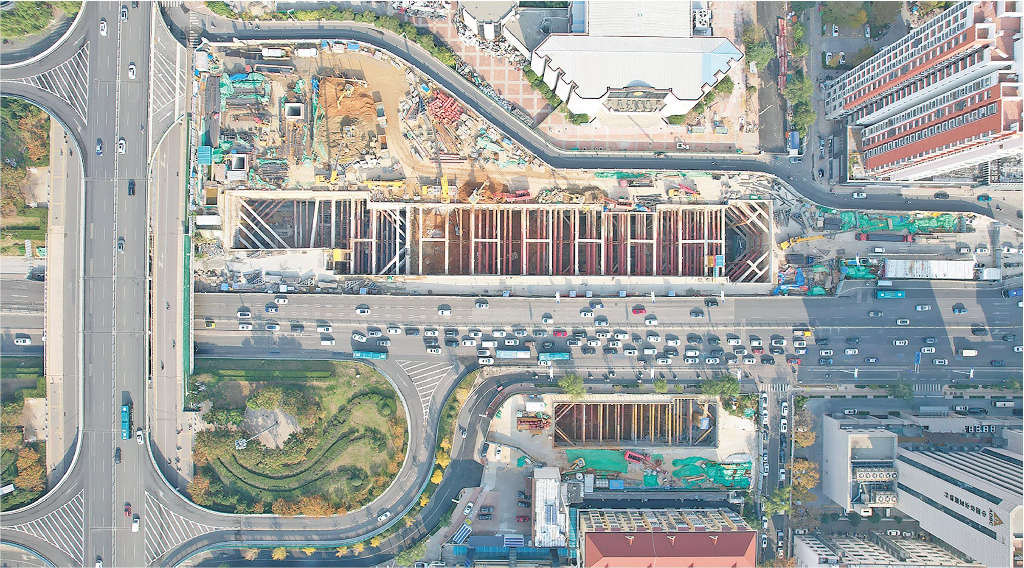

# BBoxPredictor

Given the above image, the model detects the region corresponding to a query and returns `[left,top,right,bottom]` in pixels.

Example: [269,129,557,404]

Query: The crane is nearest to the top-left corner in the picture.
[314,131,348,188]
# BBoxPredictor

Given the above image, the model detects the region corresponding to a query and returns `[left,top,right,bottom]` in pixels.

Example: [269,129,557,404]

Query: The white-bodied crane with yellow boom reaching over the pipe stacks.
[424,119,455,204]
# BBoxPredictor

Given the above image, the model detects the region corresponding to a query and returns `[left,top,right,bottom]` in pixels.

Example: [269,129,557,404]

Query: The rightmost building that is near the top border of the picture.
[828,0,1024,176]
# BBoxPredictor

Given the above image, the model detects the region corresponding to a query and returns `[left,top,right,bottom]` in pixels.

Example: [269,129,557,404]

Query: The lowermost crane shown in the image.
[771,223,882,256]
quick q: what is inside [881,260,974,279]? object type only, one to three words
building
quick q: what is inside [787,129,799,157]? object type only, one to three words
vehicle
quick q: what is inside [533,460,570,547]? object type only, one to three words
house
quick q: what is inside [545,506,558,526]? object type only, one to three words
solar panel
